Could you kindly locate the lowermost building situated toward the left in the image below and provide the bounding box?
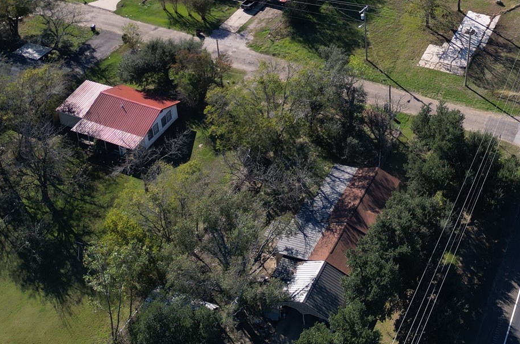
[58,83,178,169]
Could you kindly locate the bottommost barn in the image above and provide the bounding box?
[282,248,351,322]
